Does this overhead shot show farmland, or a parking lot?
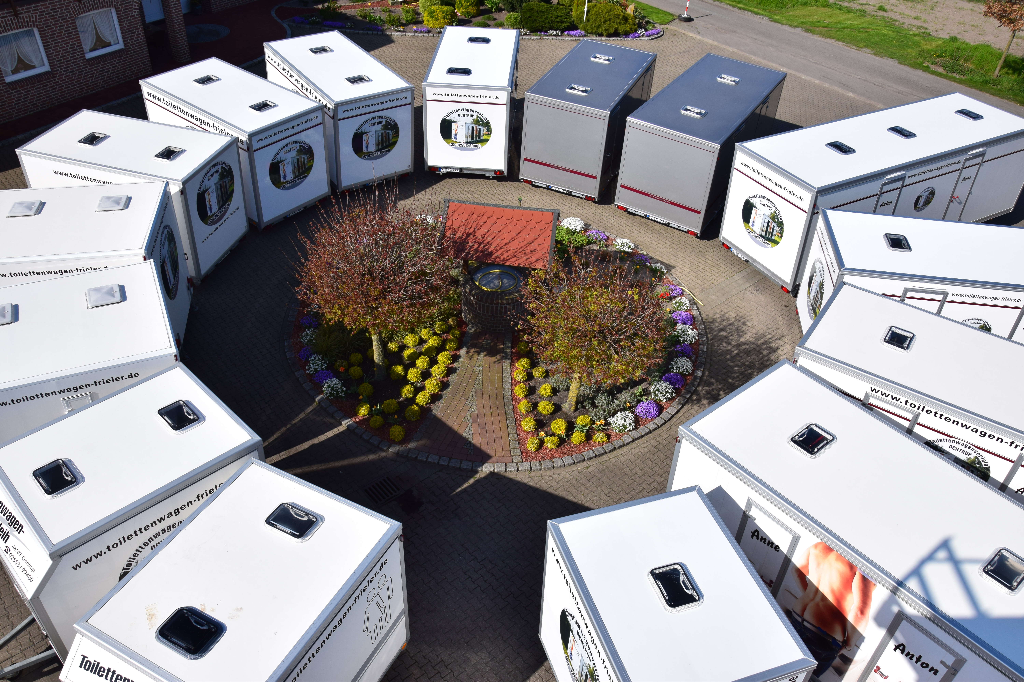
parking lot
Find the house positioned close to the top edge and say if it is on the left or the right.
left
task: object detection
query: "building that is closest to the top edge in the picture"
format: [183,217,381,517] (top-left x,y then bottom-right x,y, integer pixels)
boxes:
[0,0,249,122]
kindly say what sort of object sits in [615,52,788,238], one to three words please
trailer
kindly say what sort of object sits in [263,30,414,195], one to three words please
trailer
